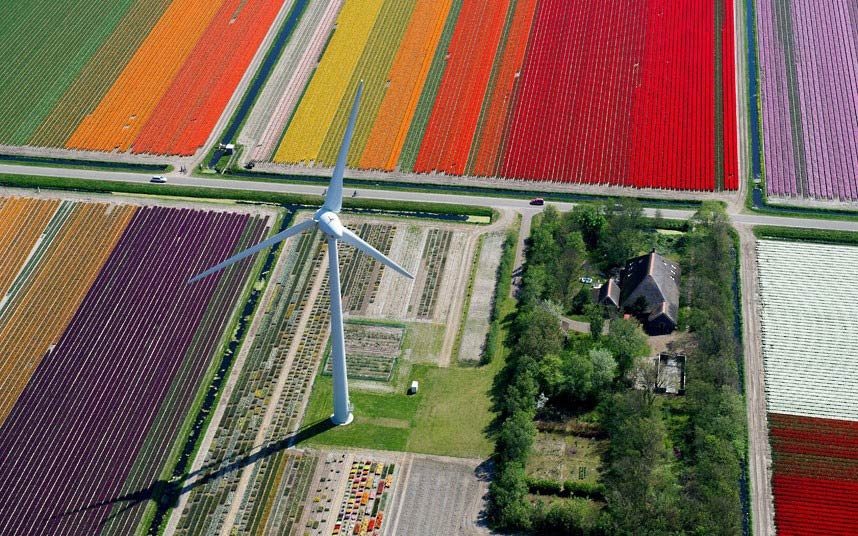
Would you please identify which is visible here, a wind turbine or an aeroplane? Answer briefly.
wind turbine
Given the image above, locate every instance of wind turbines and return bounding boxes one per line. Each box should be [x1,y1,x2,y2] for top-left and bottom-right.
[191,85,412,429]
